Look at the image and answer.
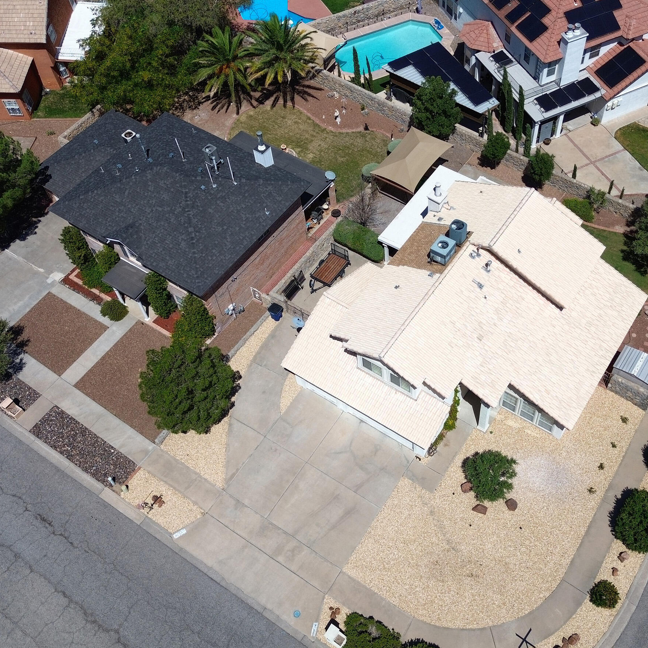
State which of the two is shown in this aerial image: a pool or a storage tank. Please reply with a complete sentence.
Of the two, only a pool appears.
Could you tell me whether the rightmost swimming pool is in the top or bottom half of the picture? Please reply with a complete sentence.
The rightmost swimming pool is in the top half of the image.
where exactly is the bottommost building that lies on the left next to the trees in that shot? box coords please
[26,110,337,332]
